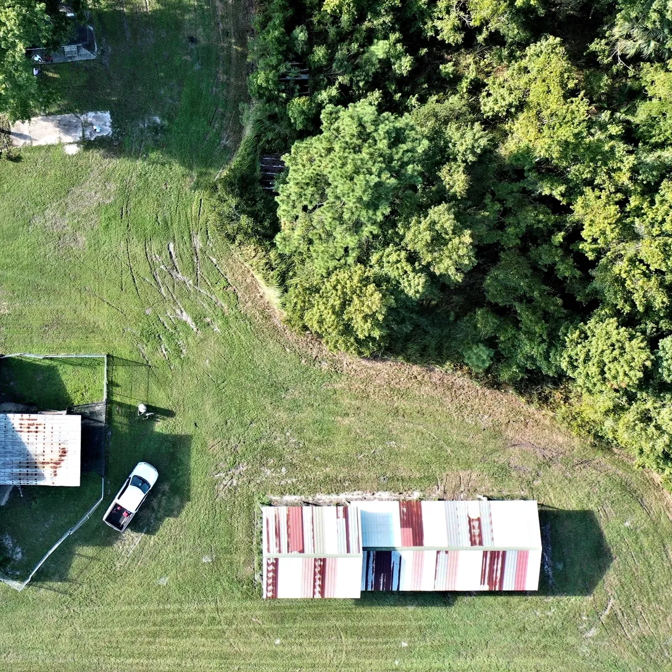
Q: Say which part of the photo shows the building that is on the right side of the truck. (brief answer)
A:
bottom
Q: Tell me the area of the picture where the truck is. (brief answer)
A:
bottom left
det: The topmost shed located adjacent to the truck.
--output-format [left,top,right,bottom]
[0,409,83,485]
